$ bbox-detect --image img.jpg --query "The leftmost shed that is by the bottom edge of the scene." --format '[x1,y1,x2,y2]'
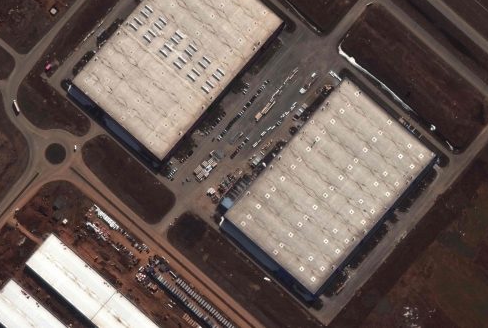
[0,279,67,328]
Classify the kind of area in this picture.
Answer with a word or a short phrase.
industrial area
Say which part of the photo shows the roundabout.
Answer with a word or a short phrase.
left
